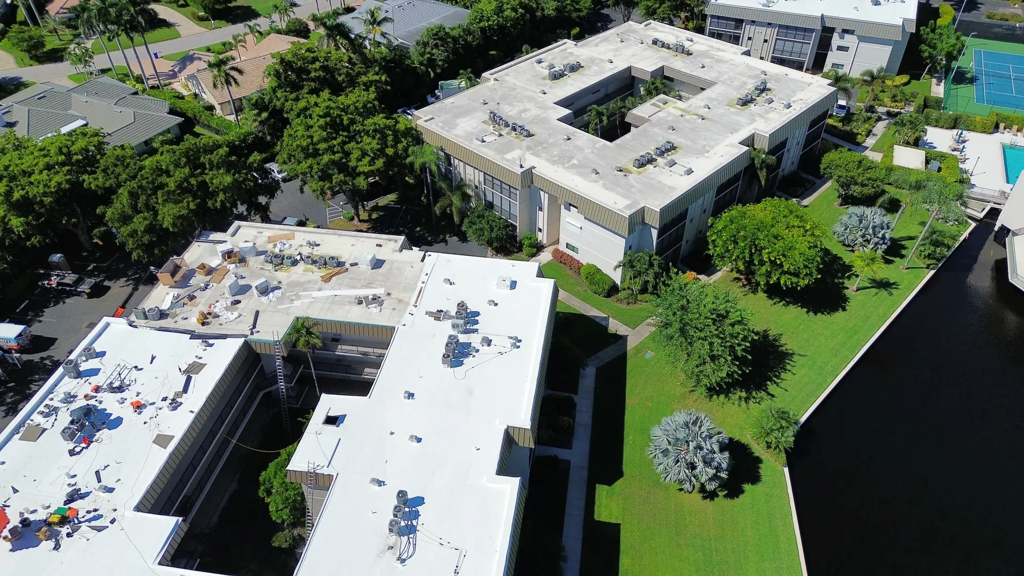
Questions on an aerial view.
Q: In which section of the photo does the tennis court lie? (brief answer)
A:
top right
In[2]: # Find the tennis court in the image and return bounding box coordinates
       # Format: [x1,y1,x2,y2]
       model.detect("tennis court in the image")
[945,38,1024,119]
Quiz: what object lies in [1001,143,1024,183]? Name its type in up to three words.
swimming pool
